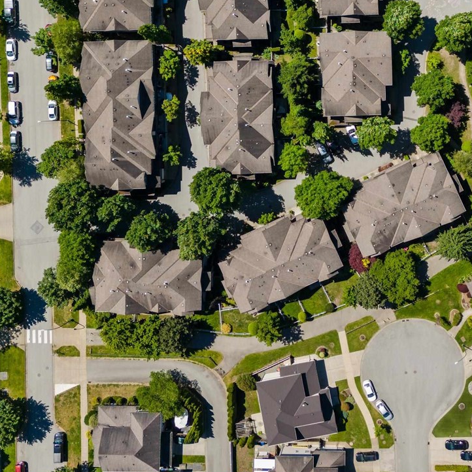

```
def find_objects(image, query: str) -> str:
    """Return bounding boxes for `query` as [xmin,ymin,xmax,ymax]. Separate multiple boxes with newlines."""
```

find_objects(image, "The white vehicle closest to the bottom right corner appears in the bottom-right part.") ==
[376,397,392,420]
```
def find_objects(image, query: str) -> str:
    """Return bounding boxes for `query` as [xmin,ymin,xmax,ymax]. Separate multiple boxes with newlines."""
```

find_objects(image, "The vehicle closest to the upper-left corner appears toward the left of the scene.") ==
[4,0,17,26]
